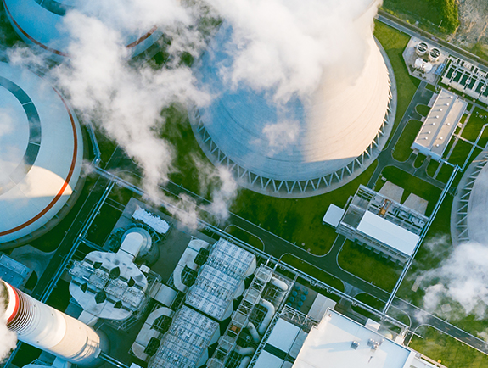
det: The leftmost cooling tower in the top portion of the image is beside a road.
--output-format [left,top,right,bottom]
[184,0,403,201]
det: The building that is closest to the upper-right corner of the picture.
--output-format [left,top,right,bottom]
[410,88,469,163]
